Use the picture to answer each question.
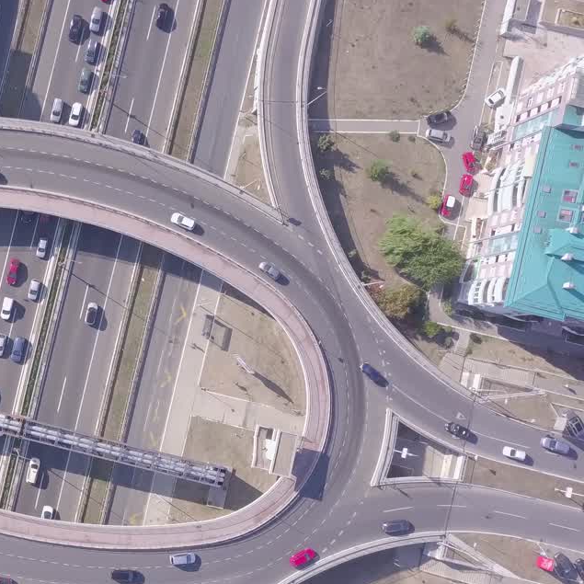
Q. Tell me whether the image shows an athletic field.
No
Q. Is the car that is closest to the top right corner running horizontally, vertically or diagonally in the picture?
diagonally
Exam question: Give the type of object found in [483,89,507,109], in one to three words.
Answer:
car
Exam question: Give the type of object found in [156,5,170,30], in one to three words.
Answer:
vehicle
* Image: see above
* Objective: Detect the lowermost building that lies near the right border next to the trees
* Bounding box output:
[454,55,584,335]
